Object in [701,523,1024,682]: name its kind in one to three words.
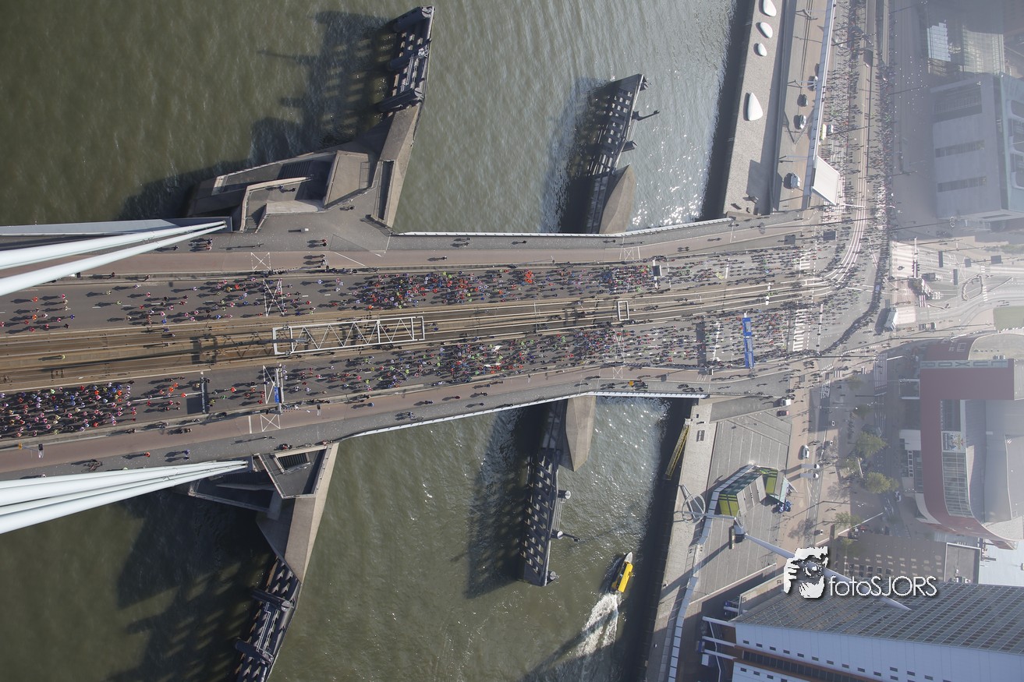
building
